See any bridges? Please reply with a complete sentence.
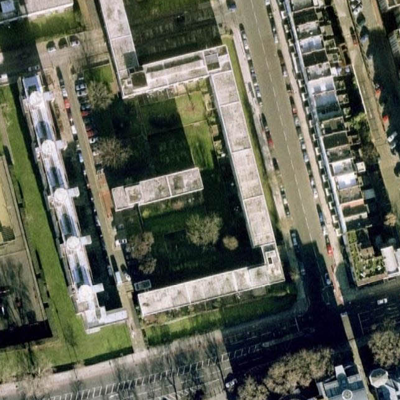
No, there isn't any bridge down there.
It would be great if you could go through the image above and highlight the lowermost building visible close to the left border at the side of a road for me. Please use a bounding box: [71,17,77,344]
[16,76,128,337]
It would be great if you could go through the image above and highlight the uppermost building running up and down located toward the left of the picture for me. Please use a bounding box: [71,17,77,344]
[99,0,148,101]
